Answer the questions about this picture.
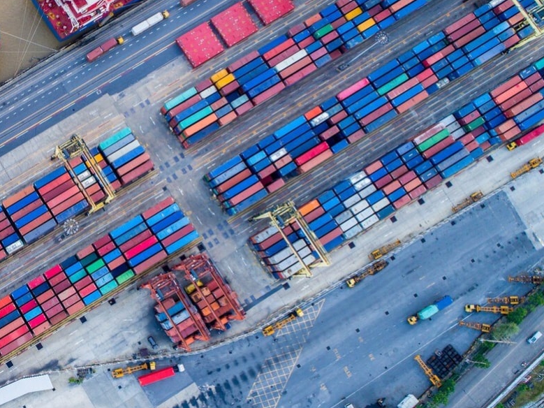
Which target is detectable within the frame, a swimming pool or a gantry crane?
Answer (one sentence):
It is a gantry crane that can be seen here.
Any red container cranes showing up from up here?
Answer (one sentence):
Yes, the picture does show a red container crane.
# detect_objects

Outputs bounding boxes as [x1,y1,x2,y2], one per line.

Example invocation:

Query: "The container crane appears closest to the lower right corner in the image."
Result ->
[243,200,330,284]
